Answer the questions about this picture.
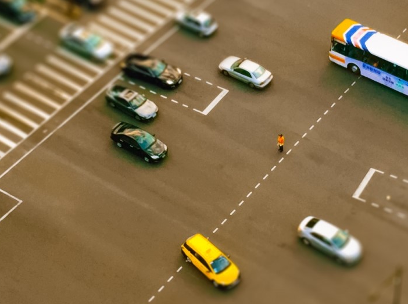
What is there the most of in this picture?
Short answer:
paved ground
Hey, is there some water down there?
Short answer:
No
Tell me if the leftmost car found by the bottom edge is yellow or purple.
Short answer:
yellow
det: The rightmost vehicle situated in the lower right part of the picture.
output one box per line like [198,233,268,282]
[292,216,367,268]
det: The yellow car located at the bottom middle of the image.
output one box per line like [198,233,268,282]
[179,226,244,290]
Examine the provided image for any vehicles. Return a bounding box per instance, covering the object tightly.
[120,54,184,94]
[99,84,164,127]
[0,0,39,25]
[55,26,117,63]
[166,8,225,44]
[105,123,171,168]
[320,19,408,97]
[214,56,277,95]
[292,216,367,268]
[0,48,16,78]
[74,0,107,10]
[179,226,244,290]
